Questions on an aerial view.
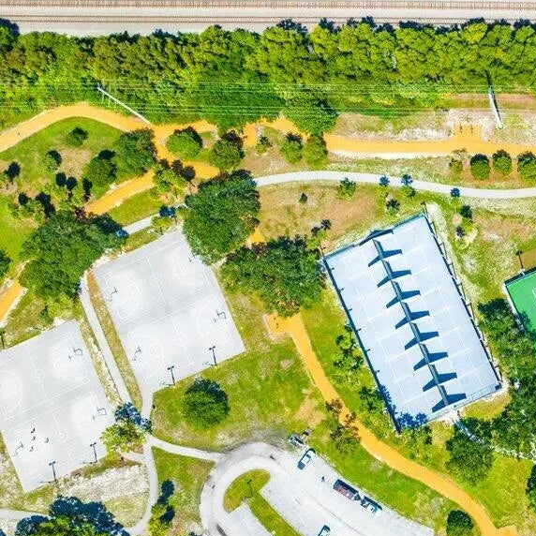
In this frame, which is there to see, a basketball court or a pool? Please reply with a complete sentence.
The image shows a basketball court.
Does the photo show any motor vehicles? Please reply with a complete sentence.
Yes, the frame does contain a motor vehicle.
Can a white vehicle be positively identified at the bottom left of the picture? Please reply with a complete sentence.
No, at the bottom left of the picture there is no white vehicle.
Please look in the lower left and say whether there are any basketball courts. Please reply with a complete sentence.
Yes, you'll find a basketball court in the lower left.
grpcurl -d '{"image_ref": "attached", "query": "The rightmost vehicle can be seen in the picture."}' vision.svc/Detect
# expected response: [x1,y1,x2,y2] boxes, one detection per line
[362,496,383,514]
